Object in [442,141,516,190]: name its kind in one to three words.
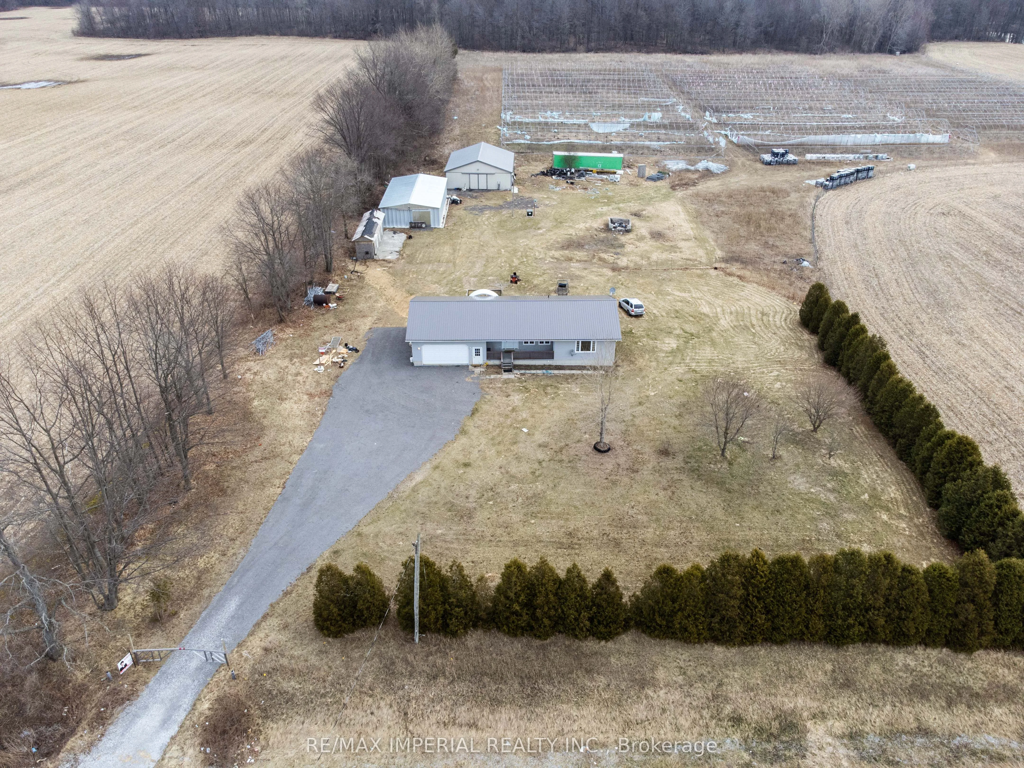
barn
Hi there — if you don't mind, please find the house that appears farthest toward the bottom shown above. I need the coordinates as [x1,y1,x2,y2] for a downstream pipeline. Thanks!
[405,292,622,374]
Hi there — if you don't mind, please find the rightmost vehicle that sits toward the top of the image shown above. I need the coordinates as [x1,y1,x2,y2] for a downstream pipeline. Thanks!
[619,294,647,314]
